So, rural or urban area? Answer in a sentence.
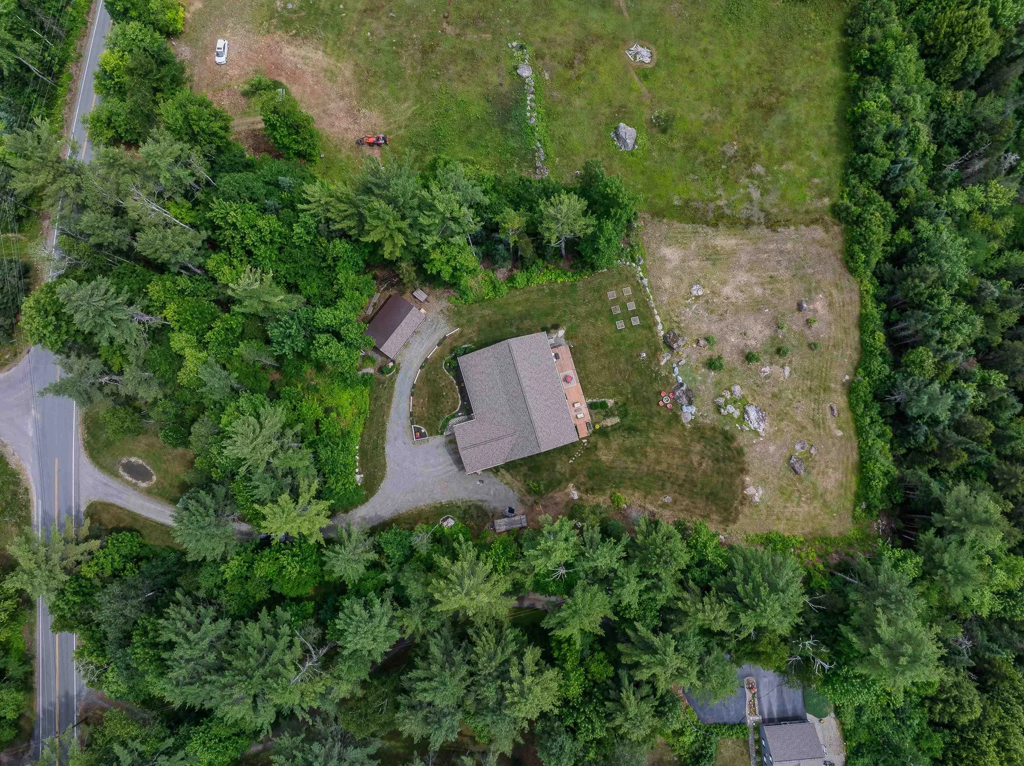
It looks rural.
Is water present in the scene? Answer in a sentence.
No, water can't be seen anywhere here.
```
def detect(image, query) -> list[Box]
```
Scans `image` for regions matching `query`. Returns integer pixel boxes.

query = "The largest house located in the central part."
[452,332,579,475]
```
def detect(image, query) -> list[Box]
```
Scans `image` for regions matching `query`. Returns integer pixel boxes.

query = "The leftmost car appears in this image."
[212,37,228,62]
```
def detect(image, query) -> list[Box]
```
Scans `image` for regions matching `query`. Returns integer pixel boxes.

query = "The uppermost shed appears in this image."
[364,294,428,360]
